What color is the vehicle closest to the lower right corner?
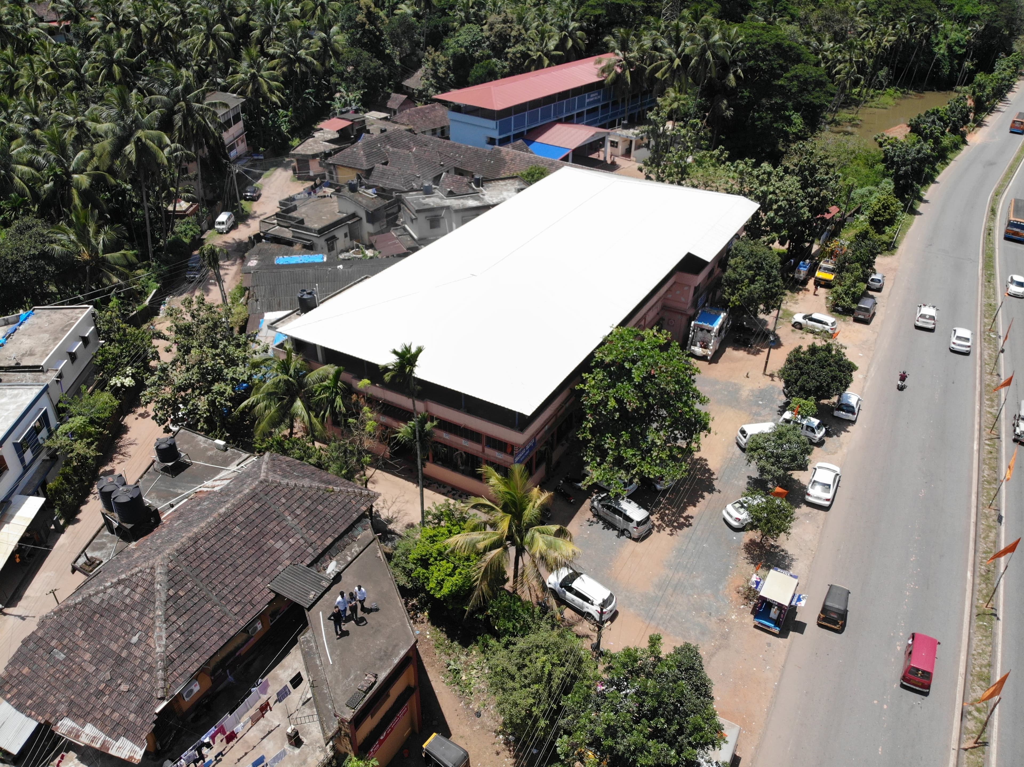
red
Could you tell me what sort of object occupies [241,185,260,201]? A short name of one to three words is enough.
car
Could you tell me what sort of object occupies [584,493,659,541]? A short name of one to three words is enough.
car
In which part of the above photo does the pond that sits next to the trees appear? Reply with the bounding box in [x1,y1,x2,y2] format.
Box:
[826,88,964,154]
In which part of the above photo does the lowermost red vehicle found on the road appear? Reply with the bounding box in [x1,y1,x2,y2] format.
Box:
[895,633,942,704]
